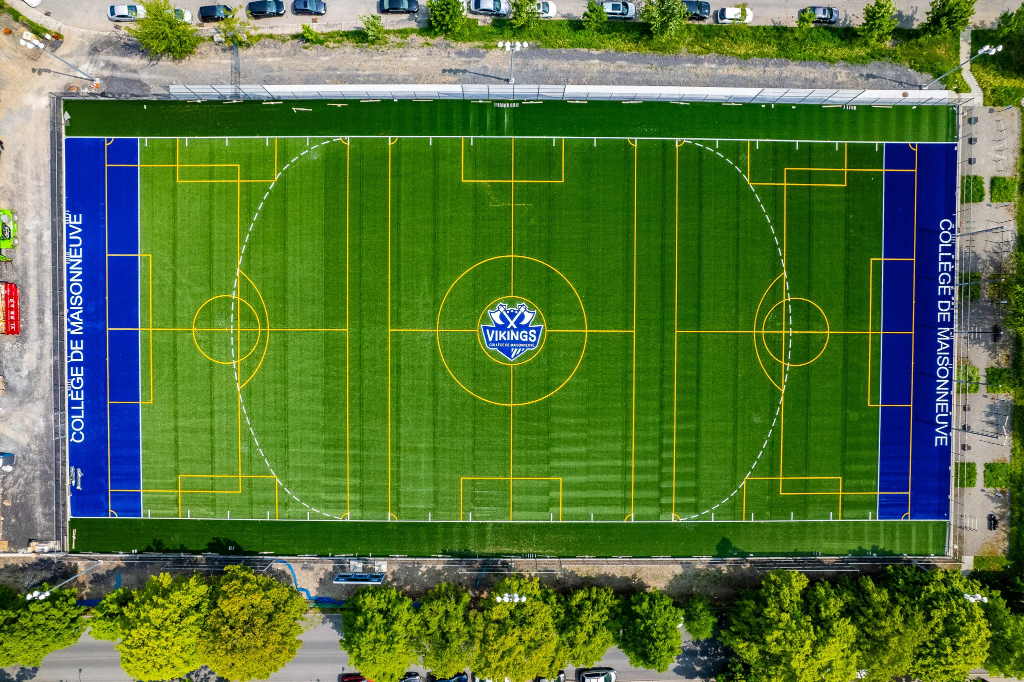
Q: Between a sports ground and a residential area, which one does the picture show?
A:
sports ground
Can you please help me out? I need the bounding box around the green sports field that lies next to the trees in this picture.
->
[66,99,958,558]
